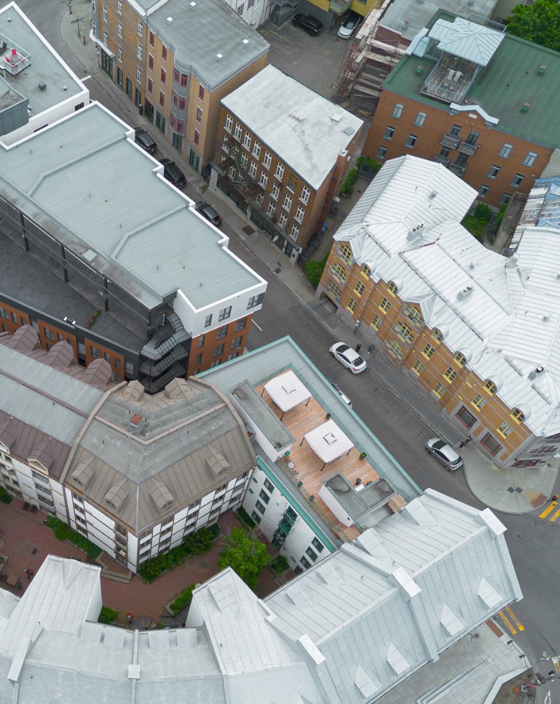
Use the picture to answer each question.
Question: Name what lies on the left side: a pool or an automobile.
automobile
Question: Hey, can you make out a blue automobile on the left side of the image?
No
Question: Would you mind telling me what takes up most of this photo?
buildings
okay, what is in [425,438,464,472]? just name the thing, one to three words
car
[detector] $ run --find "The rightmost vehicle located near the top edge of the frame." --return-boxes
[337,14,359,38]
